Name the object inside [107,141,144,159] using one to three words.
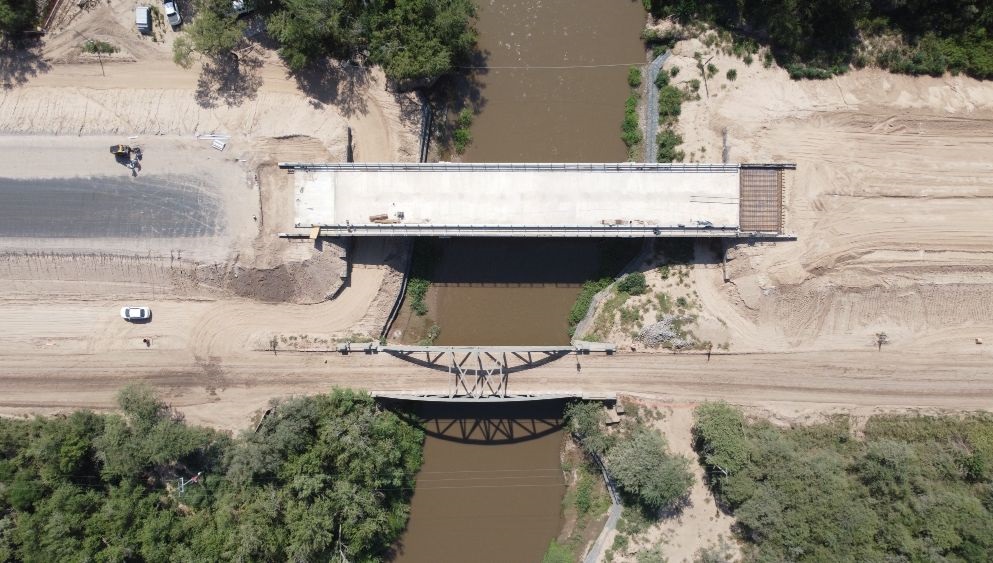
work vehicle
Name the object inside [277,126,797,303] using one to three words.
bridge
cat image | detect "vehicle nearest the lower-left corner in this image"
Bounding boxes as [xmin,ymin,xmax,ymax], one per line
[120,307,152,322]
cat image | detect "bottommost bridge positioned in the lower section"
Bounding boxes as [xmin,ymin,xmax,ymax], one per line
[339,341,616,403]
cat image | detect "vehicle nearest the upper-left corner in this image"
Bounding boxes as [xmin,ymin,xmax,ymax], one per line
[133,2,153,35]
